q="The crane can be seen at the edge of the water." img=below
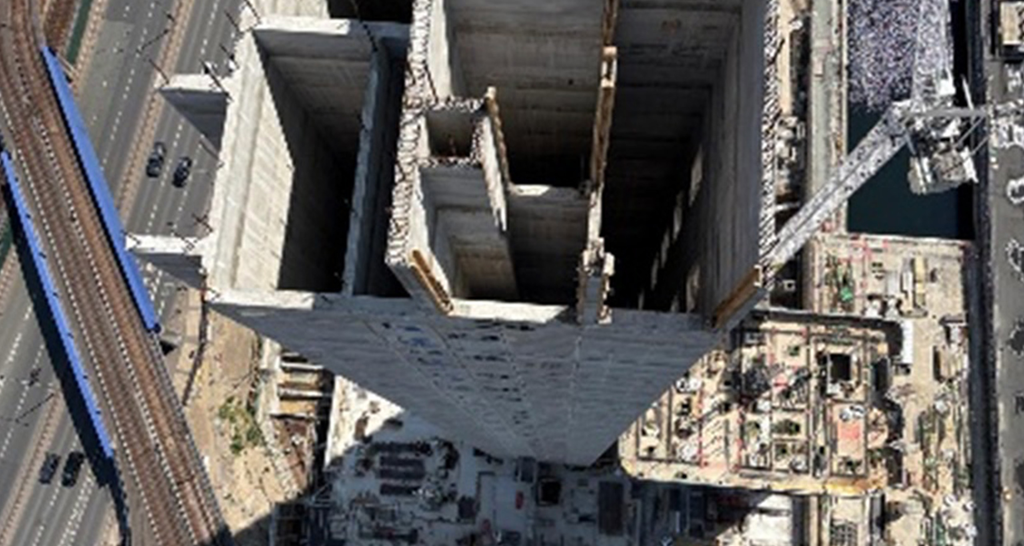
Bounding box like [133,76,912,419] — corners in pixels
[780,0,1001,273]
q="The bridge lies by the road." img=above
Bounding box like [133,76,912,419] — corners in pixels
[0,0,236,546]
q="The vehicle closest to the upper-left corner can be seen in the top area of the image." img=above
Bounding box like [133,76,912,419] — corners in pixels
[142,141,165,175]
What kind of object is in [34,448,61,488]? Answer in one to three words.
car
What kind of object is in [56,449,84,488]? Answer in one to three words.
car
